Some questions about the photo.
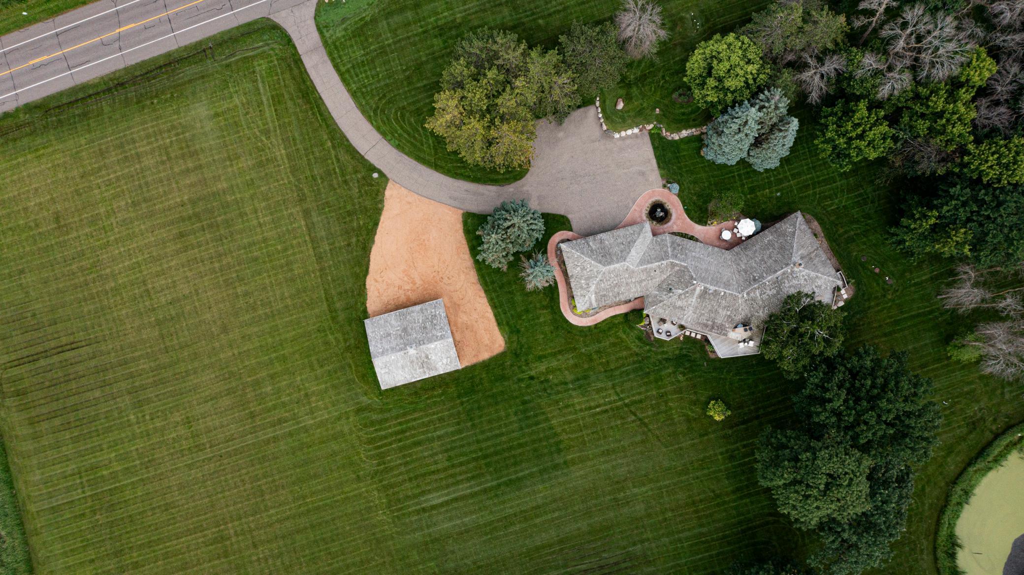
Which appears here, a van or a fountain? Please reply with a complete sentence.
There is a fountain in the scene.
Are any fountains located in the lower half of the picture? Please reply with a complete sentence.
No, I see no fountain in the lower half of the picture.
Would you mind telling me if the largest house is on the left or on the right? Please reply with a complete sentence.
It is on the right.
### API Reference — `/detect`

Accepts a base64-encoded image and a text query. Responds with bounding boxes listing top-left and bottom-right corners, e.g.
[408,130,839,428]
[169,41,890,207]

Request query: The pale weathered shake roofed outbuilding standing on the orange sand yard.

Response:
[364,299,461,389]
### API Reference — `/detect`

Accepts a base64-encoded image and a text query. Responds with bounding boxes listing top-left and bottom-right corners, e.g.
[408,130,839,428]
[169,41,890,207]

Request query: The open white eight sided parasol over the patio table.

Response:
[737,219,755,236]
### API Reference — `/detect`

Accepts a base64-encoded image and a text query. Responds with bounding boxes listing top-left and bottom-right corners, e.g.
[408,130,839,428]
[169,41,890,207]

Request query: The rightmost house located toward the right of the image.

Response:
[560,211,848,358]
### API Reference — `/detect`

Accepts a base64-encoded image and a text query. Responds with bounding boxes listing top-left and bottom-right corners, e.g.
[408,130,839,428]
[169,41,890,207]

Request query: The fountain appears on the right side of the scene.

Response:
[643,197,674,227]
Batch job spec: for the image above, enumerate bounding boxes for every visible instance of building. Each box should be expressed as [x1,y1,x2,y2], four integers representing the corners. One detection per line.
[560,211,848,358]
[364,299,461,389]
